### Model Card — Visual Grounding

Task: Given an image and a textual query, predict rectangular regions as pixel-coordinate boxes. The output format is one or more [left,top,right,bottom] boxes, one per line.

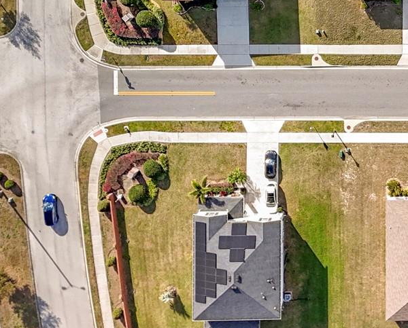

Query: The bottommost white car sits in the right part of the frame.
[265,176,279,209]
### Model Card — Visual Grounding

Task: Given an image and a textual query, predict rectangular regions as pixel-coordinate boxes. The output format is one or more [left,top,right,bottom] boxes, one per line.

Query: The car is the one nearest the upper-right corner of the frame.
[264,146,278,176]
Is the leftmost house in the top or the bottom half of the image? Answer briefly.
bottom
